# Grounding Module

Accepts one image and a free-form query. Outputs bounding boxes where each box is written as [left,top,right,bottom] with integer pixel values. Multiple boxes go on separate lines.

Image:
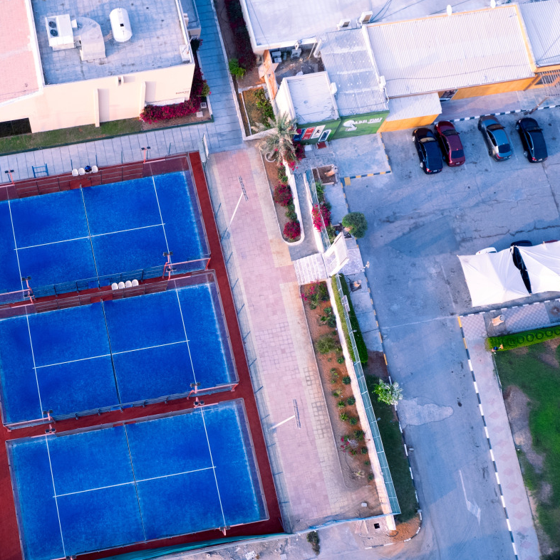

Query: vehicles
[516,116,553,163]
[478,239,503,254]
[542,232,560,242]
[479,115,514,161]
[412,127,446,175]
[434,119,468,167]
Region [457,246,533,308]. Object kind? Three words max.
tent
